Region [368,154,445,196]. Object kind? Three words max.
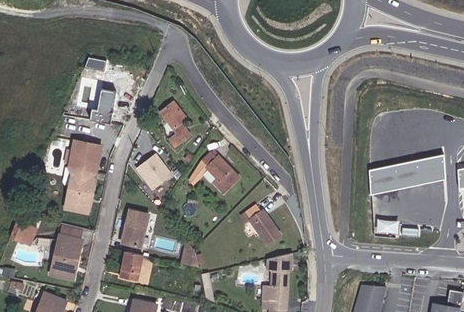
building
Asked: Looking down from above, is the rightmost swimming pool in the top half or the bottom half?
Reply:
bottom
